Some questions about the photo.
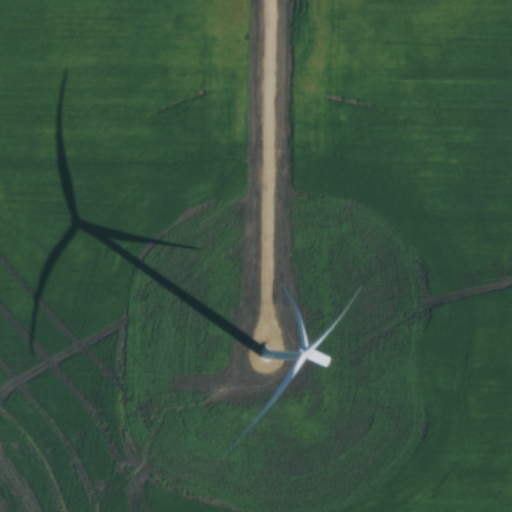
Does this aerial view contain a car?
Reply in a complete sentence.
No, no car can be seen from above.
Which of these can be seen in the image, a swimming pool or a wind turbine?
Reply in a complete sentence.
I can see a wind turbine in this picture.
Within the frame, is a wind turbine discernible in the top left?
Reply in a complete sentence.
No, looking in the top left, there is no wind turbine.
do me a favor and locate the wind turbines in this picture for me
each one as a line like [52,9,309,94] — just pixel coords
[220,254,380,460]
